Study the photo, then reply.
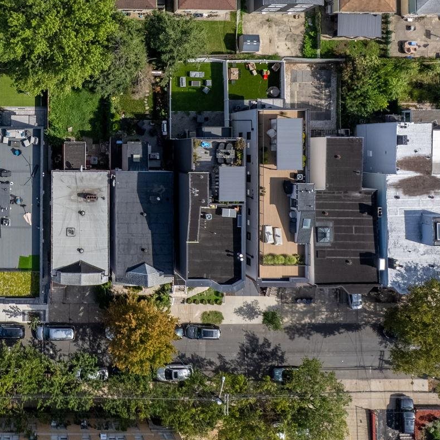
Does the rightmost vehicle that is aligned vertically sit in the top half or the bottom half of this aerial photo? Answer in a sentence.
It is in the bottom half that the rightmost vehicle that is aligned vertically appears.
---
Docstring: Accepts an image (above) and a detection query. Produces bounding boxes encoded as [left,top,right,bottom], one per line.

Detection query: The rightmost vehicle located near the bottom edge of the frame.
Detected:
[396,395,416,437]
